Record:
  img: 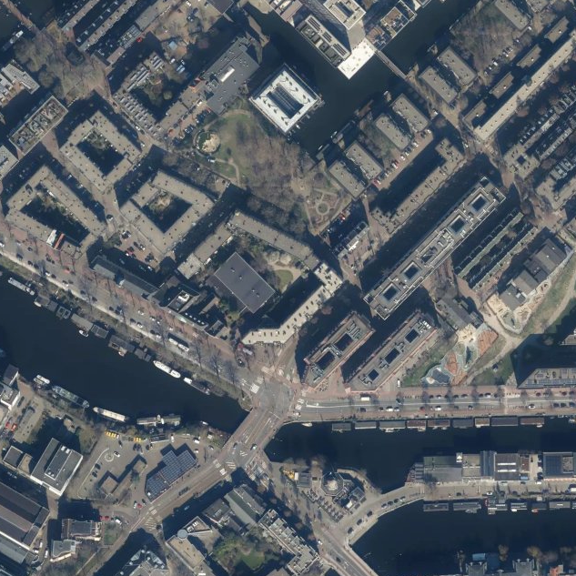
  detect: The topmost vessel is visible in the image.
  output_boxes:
[1,31,23,50]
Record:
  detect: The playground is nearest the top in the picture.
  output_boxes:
[196,126,223,155]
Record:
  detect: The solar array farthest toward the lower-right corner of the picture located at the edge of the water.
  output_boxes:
[546,455,561,475]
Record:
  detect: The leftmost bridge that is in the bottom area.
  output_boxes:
[221,406,286,452]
